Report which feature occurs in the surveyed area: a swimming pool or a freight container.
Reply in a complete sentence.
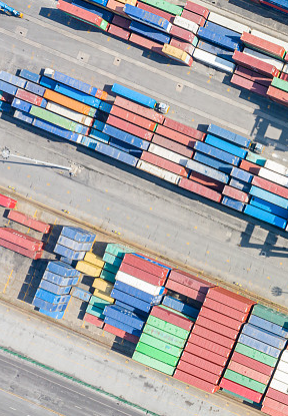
The image shows a freight container.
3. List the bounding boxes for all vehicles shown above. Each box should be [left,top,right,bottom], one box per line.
[250,142,265,154]
[155,102,171,113]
